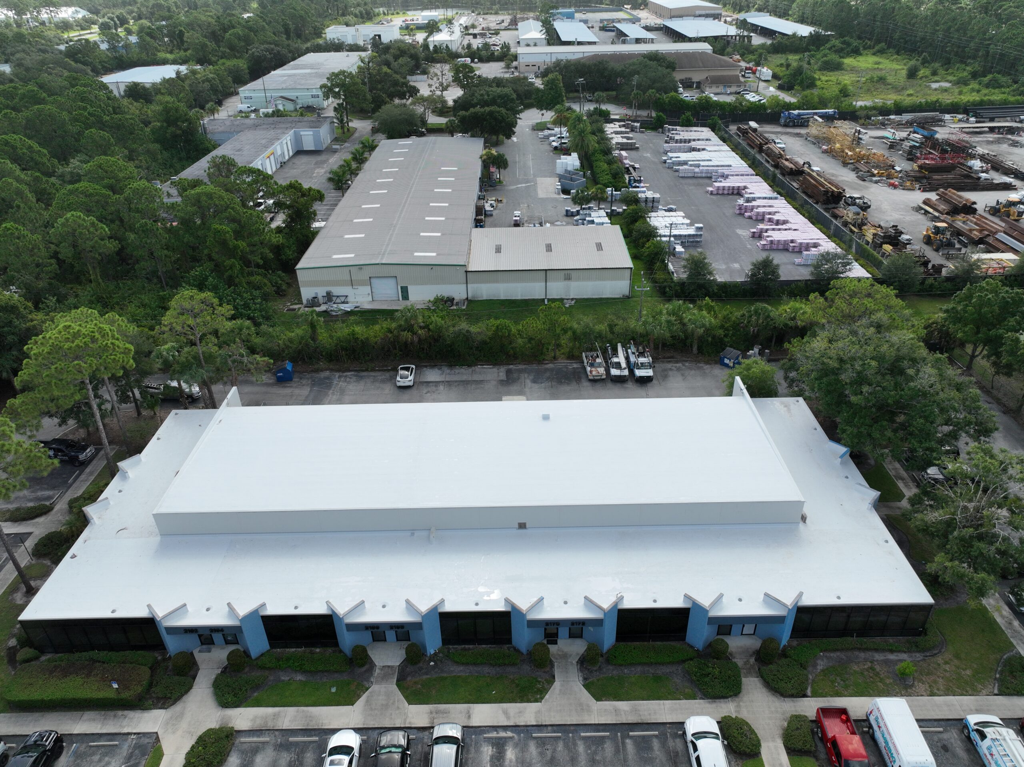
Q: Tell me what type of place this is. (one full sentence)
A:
This image shows an industrial area.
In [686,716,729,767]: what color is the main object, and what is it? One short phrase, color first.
white car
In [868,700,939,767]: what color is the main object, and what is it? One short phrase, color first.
white van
